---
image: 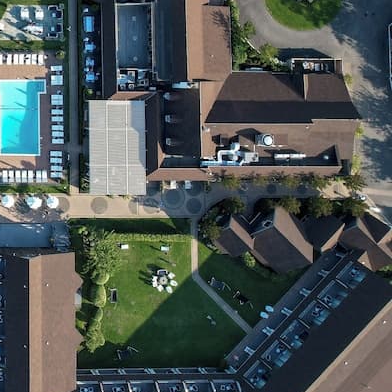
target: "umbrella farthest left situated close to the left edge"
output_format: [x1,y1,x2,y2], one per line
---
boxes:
[0,195,14,208]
